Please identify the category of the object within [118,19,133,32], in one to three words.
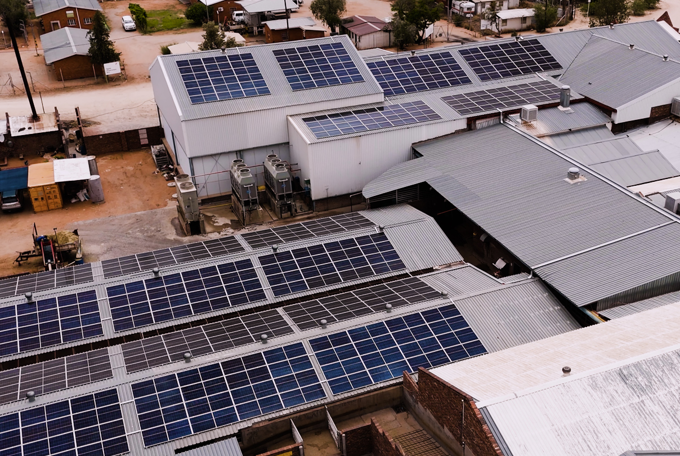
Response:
vehicle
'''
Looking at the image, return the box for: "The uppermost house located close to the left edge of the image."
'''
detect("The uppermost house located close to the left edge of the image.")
[34,0,98,33]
